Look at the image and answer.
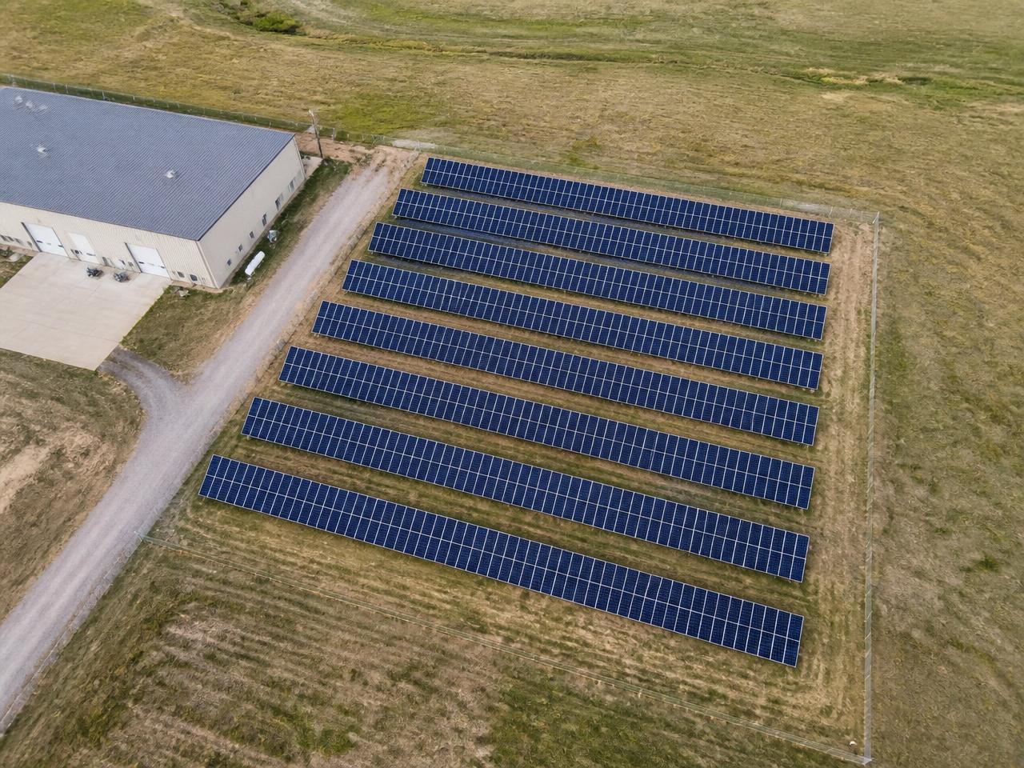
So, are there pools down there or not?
No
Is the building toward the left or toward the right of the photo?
left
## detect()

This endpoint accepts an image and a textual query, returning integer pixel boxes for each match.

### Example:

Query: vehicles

[84,264,103,277]
[111,269,128,283]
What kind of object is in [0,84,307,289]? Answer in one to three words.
building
